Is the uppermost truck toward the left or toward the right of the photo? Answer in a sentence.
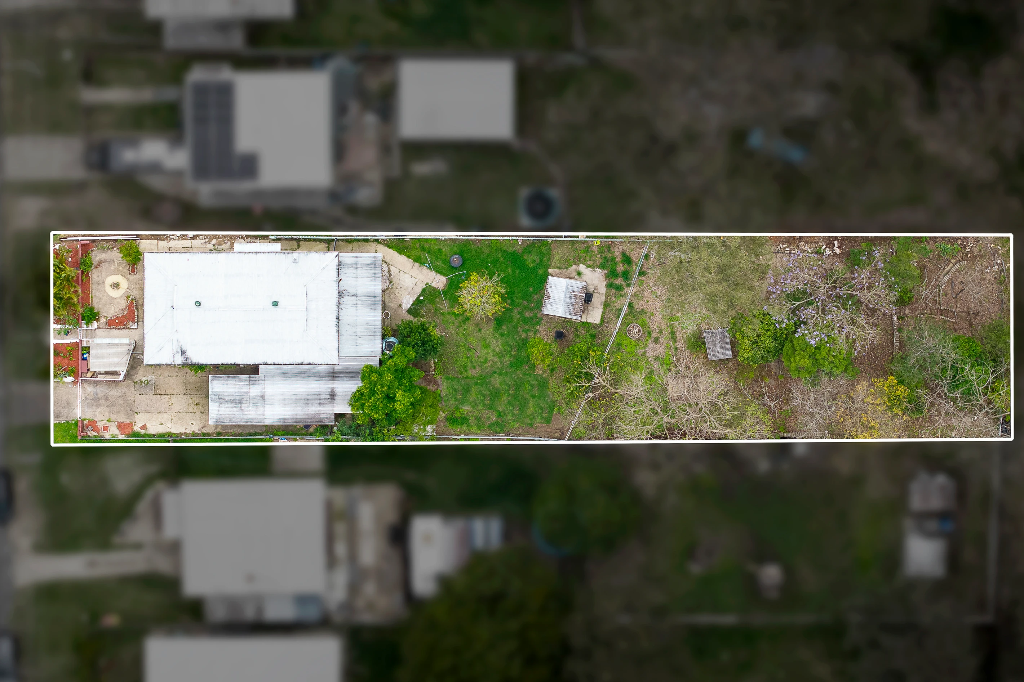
You can find the uppermost truck on the left side of the picture.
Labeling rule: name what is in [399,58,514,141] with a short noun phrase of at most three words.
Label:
building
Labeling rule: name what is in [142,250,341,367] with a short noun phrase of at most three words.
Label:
house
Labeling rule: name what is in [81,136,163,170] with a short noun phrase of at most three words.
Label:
truck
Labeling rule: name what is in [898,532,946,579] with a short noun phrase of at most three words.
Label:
shed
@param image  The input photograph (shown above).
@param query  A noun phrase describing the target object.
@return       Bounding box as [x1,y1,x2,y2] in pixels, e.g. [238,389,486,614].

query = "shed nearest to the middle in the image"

[542,276,587,320]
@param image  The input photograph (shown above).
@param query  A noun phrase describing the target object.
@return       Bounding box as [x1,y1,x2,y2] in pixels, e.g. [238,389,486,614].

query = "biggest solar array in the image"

[192,81,257,181]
